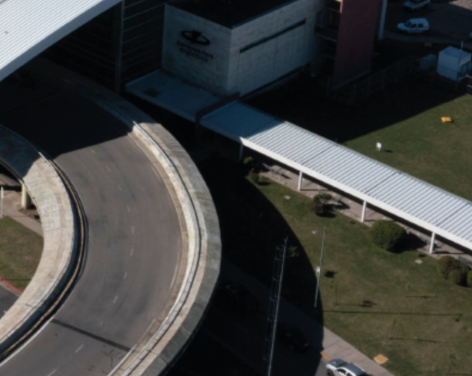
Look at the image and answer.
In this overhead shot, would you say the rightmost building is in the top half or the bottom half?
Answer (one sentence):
The rightmost building sits in the top half of the picture.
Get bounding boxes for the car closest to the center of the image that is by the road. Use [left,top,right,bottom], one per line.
[218,261,261,303]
